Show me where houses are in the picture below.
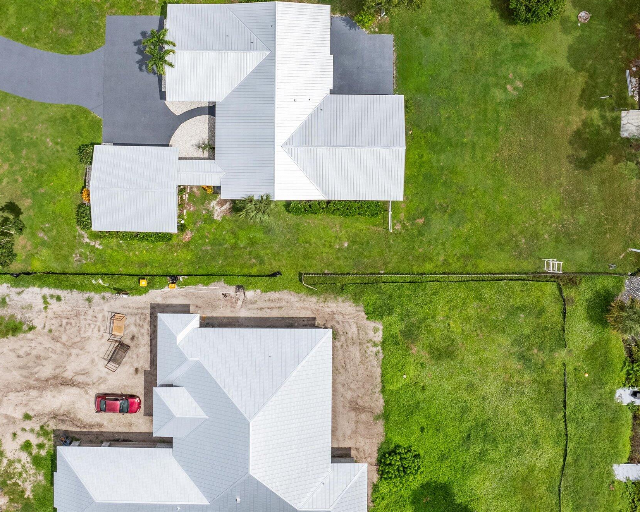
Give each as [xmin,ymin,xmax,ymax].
[57,312,369,512]
[166,0,406,203]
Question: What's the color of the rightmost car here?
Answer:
red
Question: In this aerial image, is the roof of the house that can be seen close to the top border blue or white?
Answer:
white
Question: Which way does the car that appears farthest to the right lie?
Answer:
from side to side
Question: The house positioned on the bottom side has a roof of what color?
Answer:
white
